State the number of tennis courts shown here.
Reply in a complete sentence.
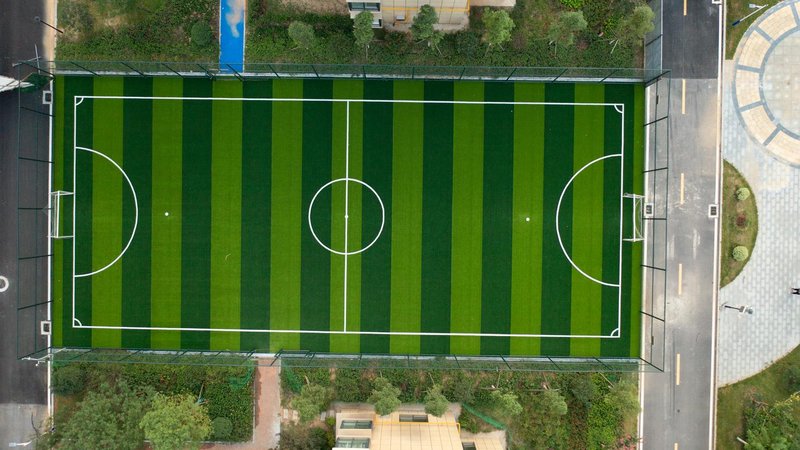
The count of tennis courts is 0.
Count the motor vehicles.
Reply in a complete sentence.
Not a single motor vehicle can be seen.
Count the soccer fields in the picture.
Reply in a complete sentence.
Only 1 soccer field is visible.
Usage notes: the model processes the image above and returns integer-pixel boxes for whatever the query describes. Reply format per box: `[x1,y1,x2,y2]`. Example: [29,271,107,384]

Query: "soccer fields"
[52,77,646,357]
